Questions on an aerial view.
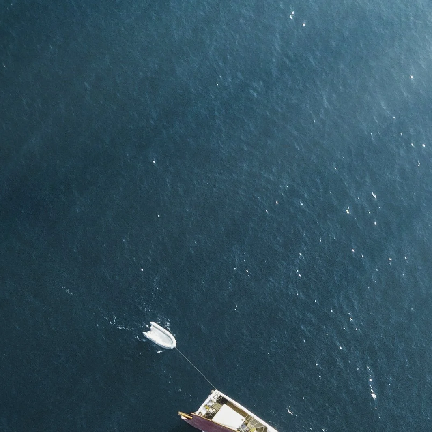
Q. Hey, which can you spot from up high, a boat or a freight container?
boat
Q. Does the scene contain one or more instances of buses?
No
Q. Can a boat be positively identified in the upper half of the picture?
No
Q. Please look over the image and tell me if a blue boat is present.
No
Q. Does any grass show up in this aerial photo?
No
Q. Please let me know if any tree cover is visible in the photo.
No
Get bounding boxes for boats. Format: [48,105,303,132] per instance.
[144,322,176,349]
[175,388,281,432]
